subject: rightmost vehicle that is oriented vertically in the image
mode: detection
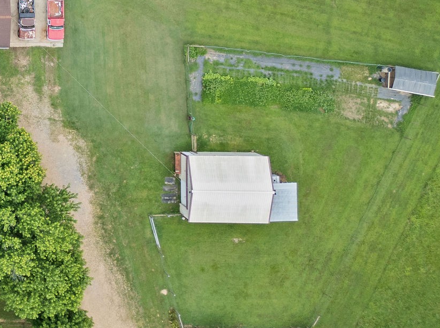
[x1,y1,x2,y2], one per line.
[46,0,65,44]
